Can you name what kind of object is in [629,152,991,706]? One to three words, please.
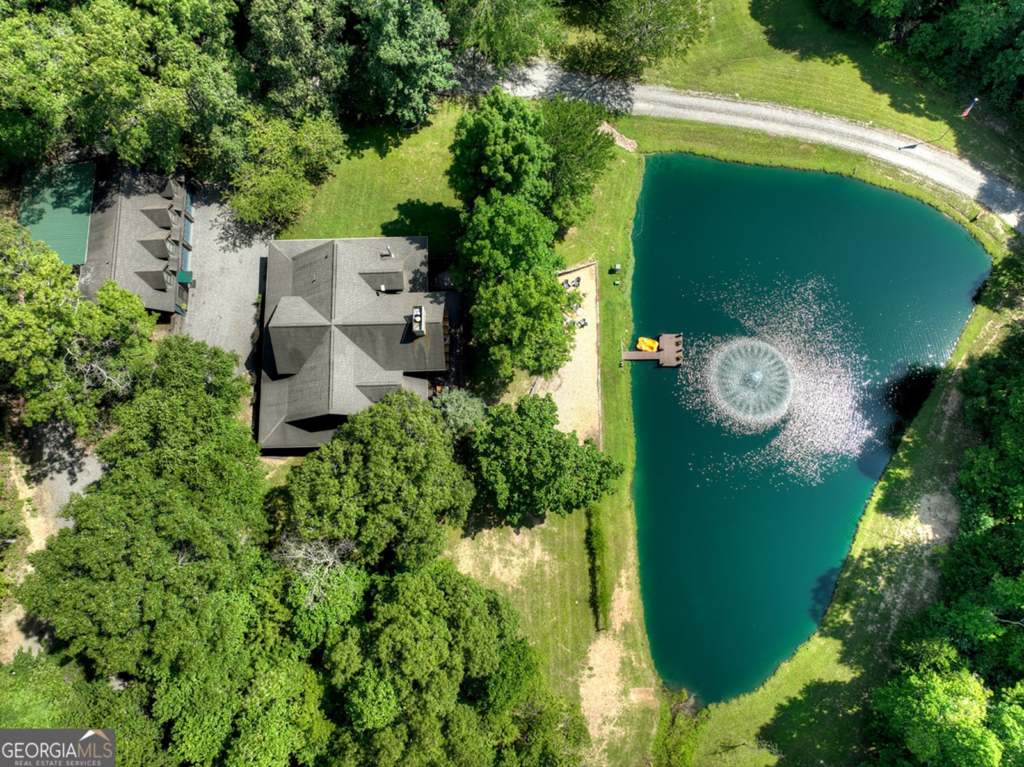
pond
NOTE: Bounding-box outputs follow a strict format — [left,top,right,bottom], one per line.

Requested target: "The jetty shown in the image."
[622,332,686,367]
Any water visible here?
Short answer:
Yes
